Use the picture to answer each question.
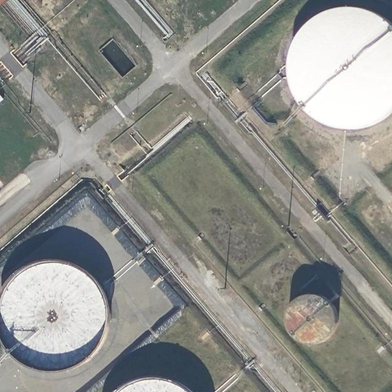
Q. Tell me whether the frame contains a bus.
No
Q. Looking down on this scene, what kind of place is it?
industrial area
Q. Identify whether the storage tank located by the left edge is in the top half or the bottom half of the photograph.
bottom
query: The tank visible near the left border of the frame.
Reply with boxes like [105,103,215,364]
[0,258,108,372]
